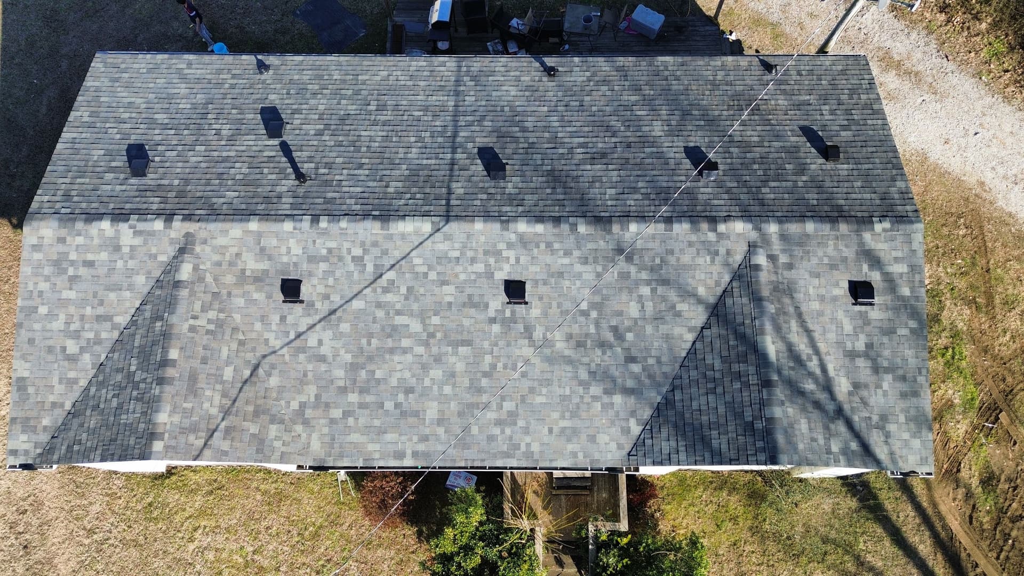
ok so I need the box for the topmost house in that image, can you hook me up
[6,53,934,484]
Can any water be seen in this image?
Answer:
No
